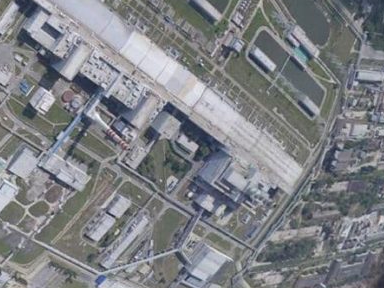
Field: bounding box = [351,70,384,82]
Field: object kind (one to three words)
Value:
building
